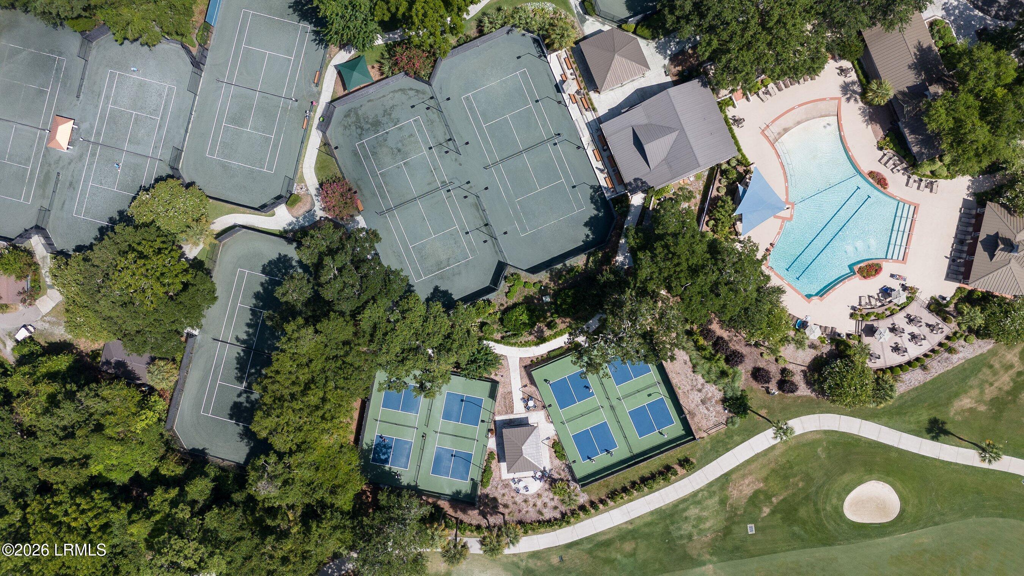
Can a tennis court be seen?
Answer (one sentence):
Yes, there's a tennis court down there.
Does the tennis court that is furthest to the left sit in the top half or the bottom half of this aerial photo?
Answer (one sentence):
Seen from above, the tennis court that is furthest to the left lies in the top half of the view.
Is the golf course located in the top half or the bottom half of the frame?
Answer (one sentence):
The bottom half of the photo is where the golf course is.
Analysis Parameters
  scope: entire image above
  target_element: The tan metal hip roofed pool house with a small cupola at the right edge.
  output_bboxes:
[957,202,1024,298]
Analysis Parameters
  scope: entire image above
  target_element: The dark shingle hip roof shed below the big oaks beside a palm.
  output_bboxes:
[100,343,160,383]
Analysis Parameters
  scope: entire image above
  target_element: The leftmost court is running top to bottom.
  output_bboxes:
[0,1,92,238]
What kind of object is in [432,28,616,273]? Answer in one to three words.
tennis court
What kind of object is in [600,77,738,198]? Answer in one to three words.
building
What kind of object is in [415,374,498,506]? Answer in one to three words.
sports court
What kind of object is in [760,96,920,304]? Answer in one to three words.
swimming pool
